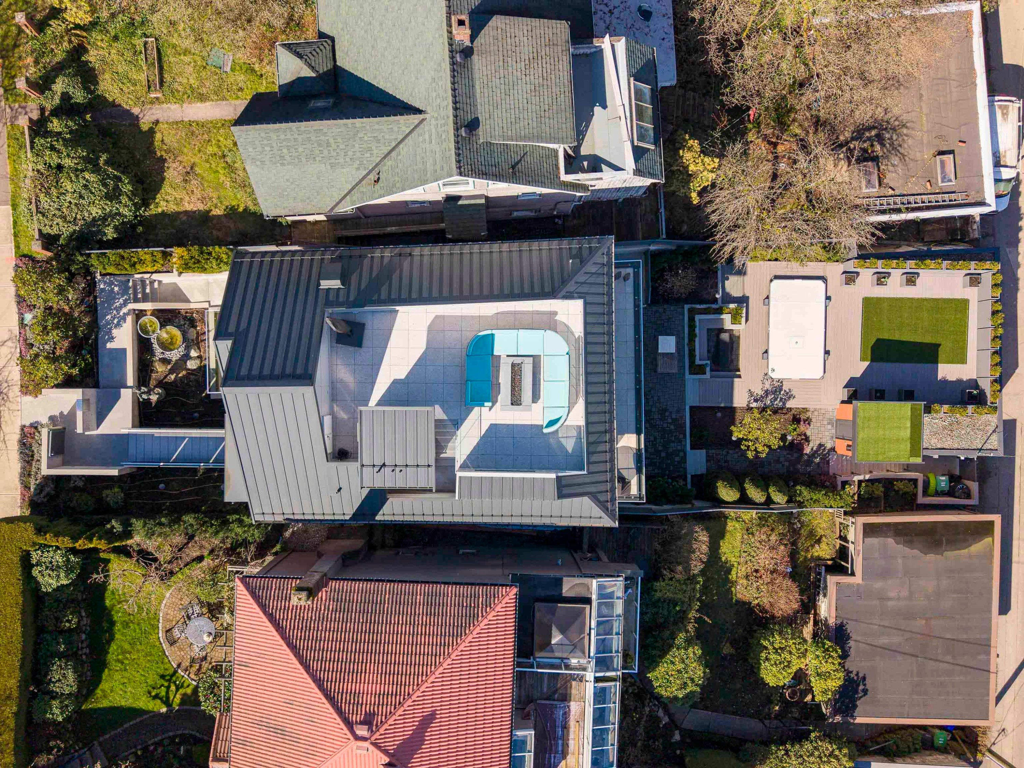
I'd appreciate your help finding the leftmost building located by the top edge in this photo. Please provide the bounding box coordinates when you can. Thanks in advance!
[231,0,676,239]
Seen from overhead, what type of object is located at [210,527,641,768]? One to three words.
house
